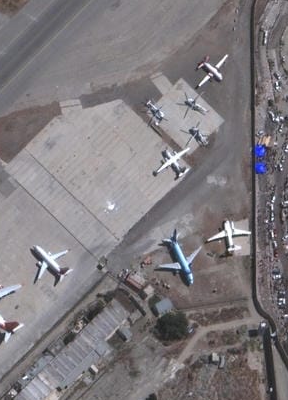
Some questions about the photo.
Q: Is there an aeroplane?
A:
Yes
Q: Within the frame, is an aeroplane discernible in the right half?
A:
Yes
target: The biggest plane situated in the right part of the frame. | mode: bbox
[155,232,200,287]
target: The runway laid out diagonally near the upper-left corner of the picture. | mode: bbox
[0,0,90,90]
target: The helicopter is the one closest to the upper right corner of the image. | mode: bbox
[179,93,209,117]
